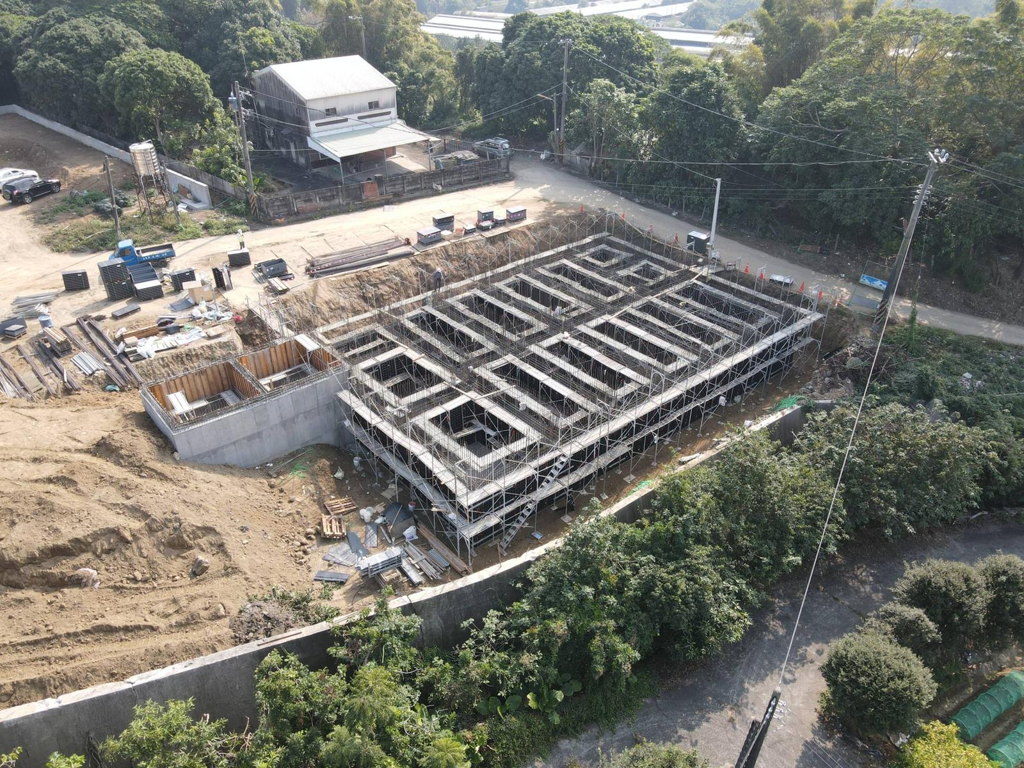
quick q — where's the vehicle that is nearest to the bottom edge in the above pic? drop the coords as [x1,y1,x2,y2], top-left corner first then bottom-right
[111,232,179,269]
